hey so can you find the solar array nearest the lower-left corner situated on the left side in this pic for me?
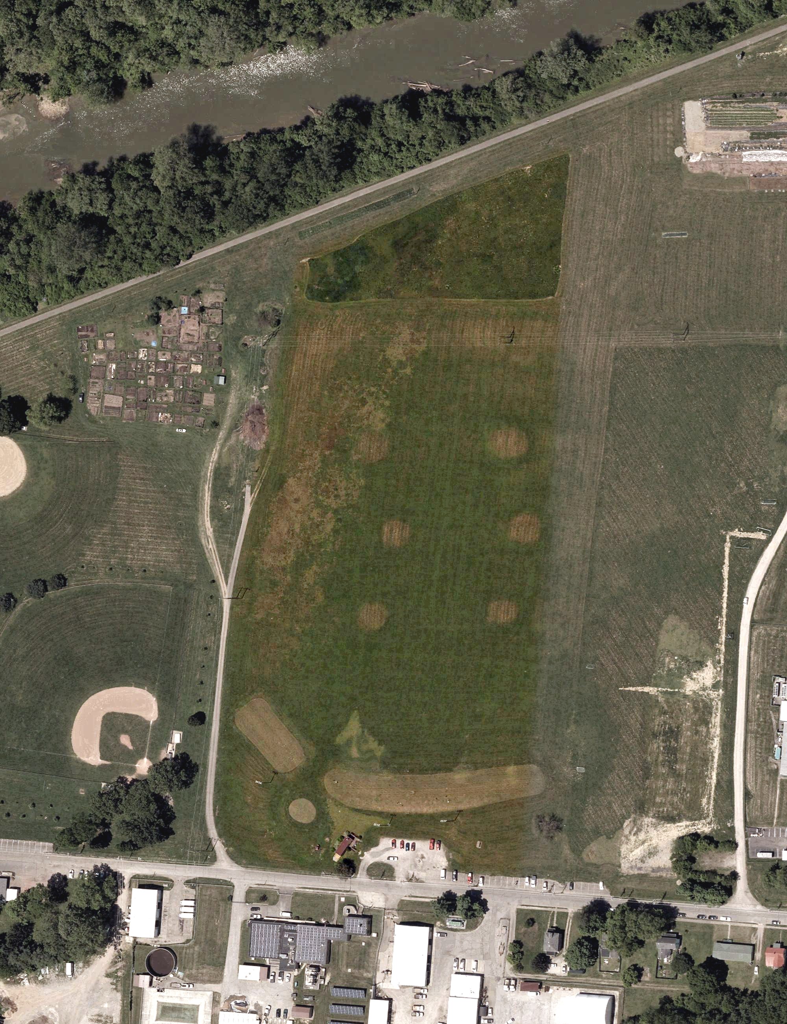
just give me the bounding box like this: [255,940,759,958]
[251,923,280,957]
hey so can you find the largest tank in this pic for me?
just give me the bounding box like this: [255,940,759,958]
[145,947,178,977]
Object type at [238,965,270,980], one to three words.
building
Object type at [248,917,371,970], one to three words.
building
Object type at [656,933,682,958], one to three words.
house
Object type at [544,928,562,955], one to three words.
house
